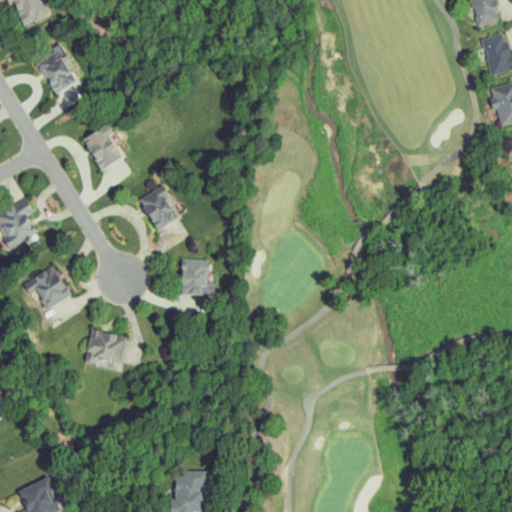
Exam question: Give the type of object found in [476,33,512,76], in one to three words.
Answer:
house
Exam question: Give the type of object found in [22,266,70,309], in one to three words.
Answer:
house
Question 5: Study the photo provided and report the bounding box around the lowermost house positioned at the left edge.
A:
[17,476,64,512]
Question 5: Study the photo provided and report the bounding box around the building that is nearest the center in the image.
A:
[180,258,214,296]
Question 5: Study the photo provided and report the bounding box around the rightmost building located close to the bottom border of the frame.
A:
[170,472,206,512]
